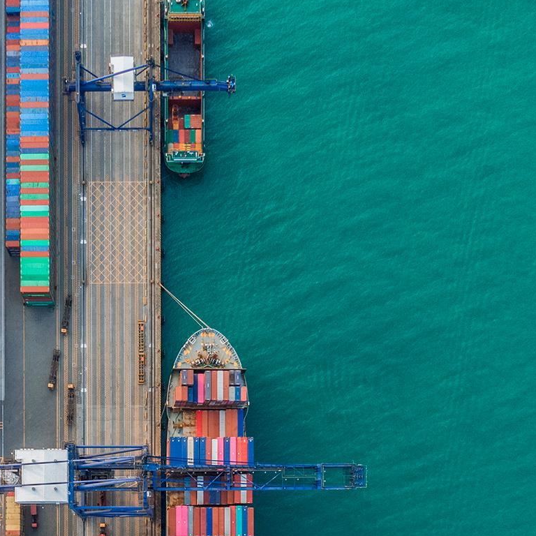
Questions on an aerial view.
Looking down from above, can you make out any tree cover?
No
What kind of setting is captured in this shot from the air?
port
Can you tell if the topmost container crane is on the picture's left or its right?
left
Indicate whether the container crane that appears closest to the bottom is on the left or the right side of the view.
left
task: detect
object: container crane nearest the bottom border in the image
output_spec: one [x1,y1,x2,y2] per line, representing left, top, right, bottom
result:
[0,435,368,532]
